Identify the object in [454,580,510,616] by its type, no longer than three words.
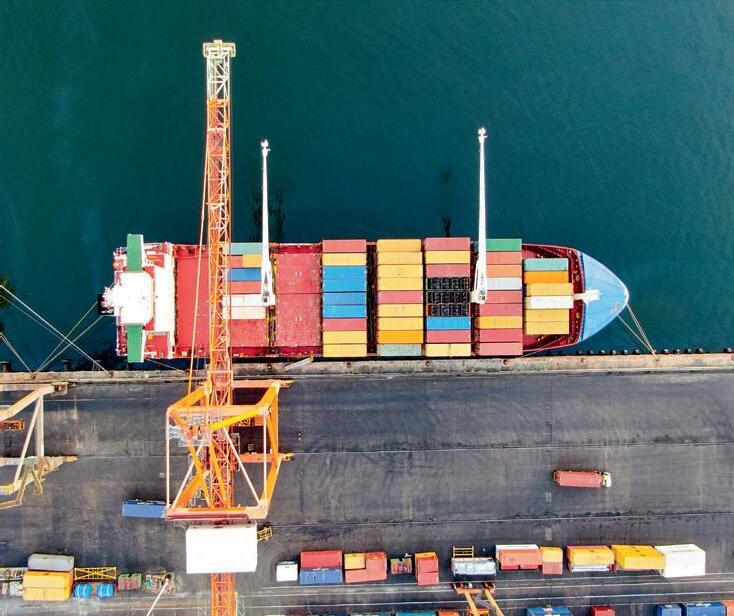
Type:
container crane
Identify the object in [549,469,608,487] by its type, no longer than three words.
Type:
vehicle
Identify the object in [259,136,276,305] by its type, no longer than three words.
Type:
crane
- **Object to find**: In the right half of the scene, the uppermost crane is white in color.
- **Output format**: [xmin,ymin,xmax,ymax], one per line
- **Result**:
[463,123,487,301]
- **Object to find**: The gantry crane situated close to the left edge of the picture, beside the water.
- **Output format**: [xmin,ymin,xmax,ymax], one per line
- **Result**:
[0,382,80,508]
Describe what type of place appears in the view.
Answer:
port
